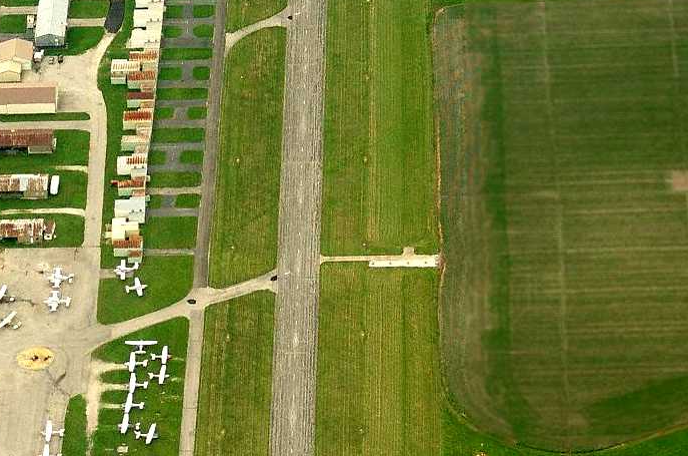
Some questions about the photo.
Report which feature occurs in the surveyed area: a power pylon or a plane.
plane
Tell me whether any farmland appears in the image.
Yes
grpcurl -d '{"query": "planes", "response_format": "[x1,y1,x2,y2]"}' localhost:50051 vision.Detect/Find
[152,346,172,364]
[40,420,63,441]
[123,278,147,294]
[39,444,61,456]
[0,285,14,300]
[0,311,21,329]
[123,351,147,371]
[125,372,148,393]
[119,414,140,433]
[46,290,72,311]
[137,424,159,444]
[125,337,157,353]
[149,365,169,383]
[48,267,74,286]
[115,261,137,278]
[120,393,144,414]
